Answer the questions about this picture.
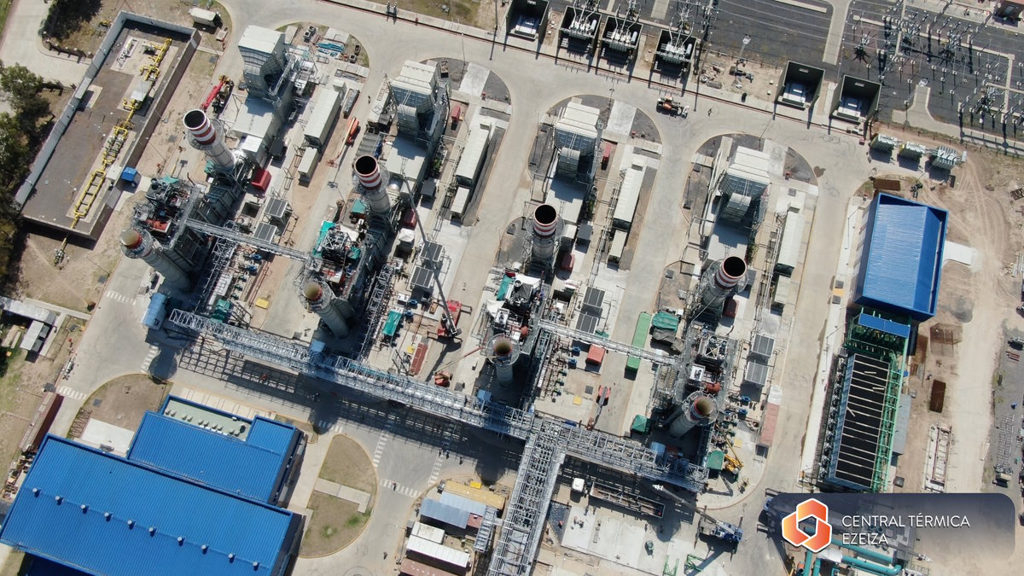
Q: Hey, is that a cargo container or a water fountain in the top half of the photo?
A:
cargo container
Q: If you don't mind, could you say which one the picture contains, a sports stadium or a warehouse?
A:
warehouse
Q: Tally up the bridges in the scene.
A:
two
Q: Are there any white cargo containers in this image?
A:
Yes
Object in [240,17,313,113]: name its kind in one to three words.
house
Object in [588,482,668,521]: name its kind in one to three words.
trailer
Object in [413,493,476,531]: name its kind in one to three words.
shed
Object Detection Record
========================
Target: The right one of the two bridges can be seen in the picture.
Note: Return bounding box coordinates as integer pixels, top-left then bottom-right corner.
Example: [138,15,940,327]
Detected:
[536,319,681,378]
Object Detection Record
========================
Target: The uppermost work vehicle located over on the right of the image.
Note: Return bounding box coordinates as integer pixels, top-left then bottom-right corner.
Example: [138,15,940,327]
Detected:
[661,97,691,113]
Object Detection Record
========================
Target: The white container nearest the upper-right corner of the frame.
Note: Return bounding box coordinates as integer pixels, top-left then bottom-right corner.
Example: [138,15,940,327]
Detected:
[763,199,806,274]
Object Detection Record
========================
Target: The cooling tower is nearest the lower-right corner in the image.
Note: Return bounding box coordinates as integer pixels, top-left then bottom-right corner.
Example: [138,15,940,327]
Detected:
[804,310,910,495]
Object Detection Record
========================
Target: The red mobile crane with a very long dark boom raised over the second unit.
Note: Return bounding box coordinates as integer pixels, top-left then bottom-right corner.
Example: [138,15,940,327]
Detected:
[400,169,468,347]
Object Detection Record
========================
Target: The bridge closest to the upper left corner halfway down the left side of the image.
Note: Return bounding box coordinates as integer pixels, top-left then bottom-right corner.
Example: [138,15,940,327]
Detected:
[186,218,320,285]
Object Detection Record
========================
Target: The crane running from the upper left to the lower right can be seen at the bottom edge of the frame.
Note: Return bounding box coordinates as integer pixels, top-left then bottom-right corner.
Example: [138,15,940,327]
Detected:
[651,483,752,551]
